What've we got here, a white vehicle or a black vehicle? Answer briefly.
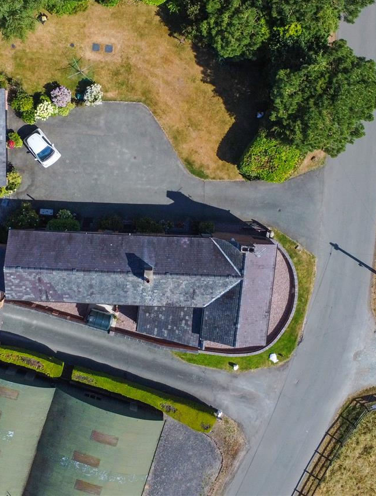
white vehicle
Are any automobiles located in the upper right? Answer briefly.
No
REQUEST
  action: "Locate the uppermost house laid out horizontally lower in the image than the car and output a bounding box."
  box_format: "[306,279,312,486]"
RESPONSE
[0,228,279,347]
